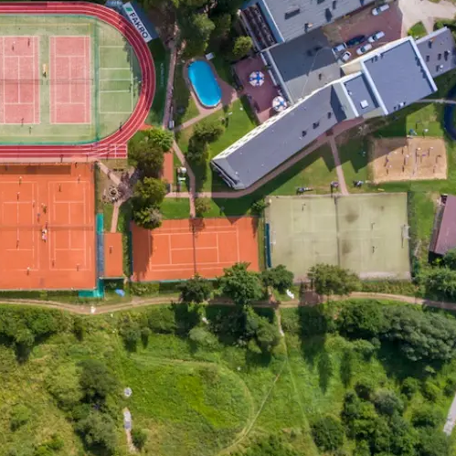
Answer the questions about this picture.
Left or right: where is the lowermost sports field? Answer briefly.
right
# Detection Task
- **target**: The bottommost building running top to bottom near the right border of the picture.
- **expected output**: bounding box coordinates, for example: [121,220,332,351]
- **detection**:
[426,194,456,256]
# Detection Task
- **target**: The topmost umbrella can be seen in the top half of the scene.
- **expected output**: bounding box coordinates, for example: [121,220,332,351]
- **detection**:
[249,71,265,86]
